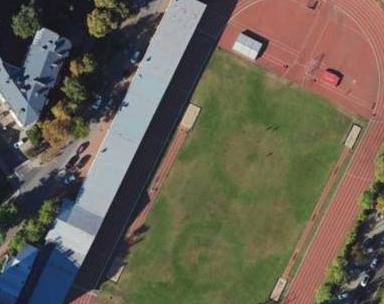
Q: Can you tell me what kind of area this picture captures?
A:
sports ground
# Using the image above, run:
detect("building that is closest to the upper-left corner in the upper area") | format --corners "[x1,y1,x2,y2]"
[0,29,74,129]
